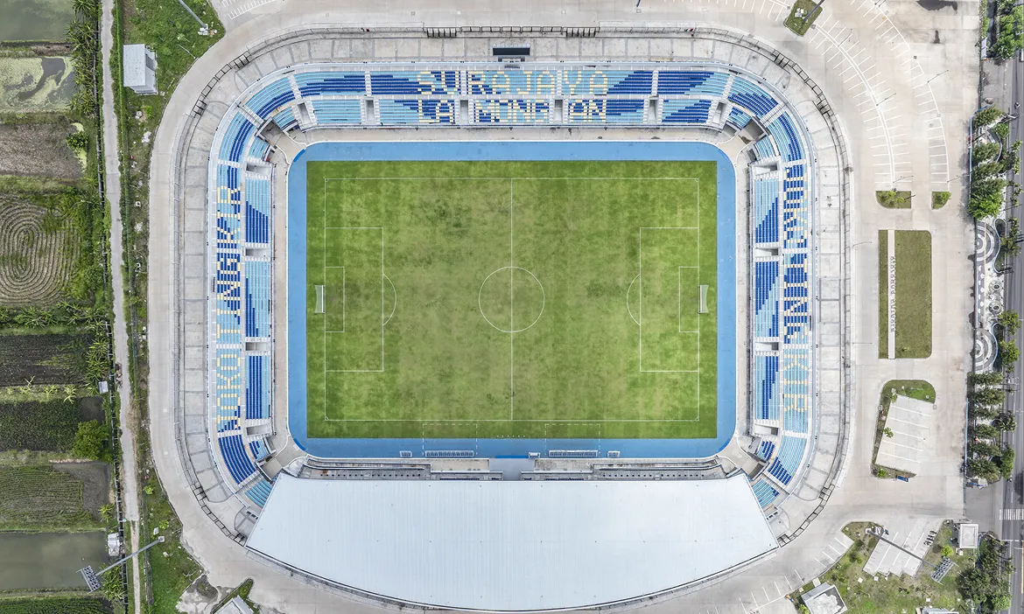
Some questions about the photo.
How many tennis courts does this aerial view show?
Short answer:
0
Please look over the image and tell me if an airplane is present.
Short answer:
No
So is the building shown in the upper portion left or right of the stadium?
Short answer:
left of it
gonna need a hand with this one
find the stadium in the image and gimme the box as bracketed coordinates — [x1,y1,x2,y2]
[169,22,855,614]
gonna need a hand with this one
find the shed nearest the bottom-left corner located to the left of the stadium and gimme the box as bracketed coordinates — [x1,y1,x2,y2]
[107,532,124,556]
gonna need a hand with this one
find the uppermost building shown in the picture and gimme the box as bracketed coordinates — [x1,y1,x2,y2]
[123,44,164,97]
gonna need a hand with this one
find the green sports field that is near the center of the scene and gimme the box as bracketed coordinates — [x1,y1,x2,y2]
[277,130,747,467]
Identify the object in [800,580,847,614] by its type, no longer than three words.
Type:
house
